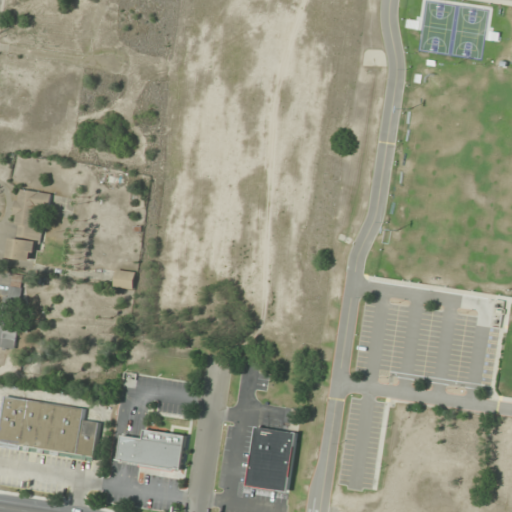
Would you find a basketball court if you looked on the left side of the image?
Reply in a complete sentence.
No, looking on the left side of the image, there is no basketball court.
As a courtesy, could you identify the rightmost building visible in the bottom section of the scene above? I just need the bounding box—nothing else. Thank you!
[244,427,297,490]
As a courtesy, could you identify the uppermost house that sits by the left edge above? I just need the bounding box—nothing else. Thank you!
[11,188,54,242]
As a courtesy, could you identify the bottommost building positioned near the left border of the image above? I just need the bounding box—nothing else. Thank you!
[0,396,102,460]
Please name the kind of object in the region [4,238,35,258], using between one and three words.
house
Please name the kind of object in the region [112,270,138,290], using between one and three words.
barn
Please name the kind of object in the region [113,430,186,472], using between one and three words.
building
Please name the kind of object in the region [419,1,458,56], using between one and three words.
basketball court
